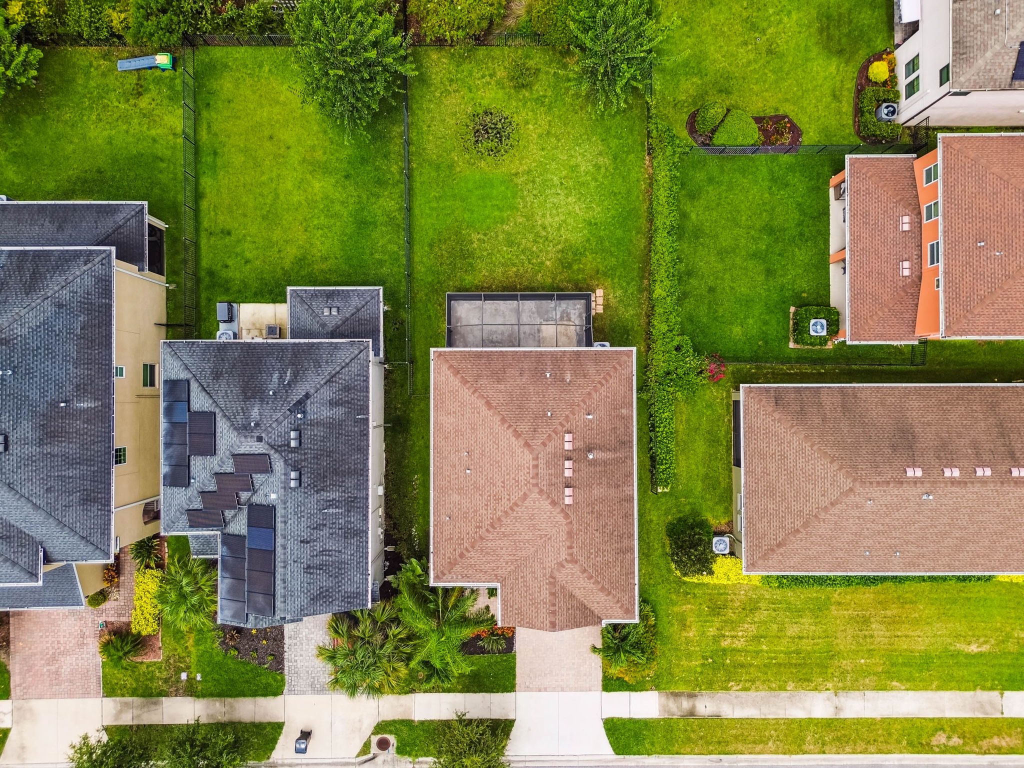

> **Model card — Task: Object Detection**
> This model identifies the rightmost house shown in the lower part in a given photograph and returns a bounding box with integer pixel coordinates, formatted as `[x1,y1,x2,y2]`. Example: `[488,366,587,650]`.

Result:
[731,382,1024,577]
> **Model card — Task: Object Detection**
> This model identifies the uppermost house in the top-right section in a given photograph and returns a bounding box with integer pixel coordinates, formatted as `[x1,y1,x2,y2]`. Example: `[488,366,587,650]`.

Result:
[894,0,1024,126]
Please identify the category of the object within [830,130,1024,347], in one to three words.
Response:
house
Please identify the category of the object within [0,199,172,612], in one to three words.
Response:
house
